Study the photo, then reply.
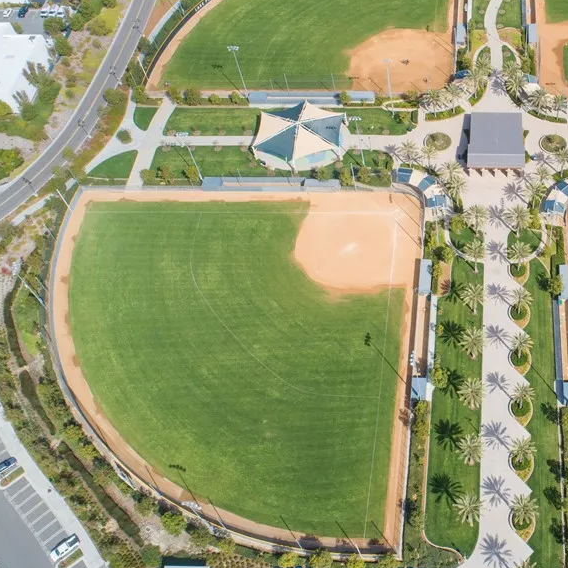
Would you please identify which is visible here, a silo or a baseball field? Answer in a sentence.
It is a baseball field that can be seen here.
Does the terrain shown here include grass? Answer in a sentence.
Yes, there is grass in the image.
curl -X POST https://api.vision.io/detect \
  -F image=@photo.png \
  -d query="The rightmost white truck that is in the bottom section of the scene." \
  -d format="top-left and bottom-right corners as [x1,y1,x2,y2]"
[46,535,81,563]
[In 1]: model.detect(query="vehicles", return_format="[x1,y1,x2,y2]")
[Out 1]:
[18,5,28,15]
[46,535,81,563]
[54,4,65,16]
[0,457,17,475]
[45,4,56,16]
[2,6,12,16]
